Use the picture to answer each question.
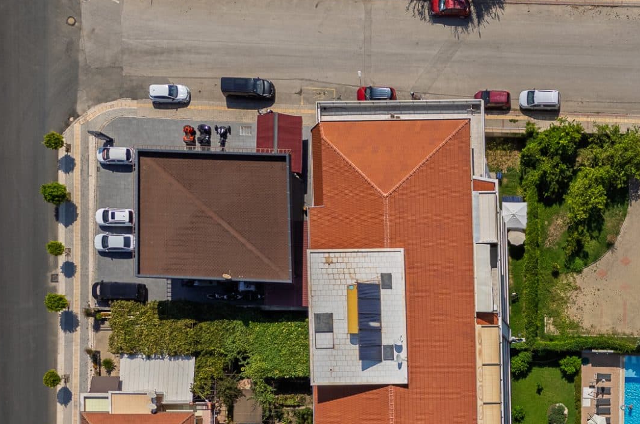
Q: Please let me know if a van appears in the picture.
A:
Yes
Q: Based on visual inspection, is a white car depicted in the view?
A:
Yes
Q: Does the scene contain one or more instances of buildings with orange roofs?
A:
Yes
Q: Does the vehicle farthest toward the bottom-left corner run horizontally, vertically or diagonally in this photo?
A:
horizontally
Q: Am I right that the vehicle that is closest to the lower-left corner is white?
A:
No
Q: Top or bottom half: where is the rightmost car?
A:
top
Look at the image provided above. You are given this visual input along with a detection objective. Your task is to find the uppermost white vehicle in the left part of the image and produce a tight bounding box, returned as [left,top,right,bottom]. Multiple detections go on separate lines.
[150,81,192,104]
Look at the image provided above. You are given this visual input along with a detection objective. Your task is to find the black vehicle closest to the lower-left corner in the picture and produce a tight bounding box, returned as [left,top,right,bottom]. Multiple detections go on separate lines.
[94,280,147,303]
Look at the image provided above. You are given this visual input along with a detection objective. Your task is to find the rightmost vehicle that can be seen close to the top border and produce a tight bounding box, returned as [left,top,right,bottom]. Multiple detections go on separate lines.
[430,0,470,19]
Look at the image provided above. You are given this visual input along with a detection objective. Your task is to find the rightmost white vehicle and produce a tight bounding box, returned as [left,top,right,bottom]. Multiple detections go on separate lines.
[520,88,560,111]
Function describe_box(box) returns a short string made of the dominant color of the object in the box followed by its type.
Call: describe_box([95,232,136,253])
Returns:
white car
